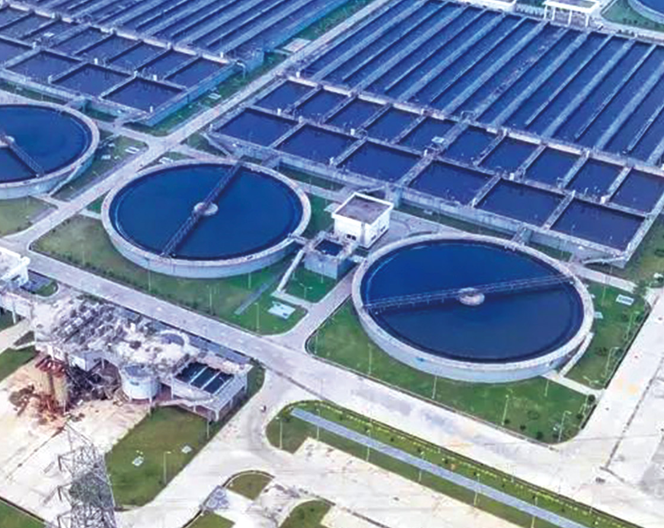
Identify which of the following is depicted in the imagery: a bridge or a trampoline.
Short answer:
bridge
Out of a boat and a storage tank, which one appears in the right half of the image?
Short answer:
storage tank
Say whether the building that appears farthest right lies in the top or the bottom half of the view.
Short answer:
top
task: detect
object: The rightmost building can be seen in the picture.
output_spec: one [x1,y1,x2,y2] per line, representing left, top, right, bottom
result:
[540,0,600,32]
